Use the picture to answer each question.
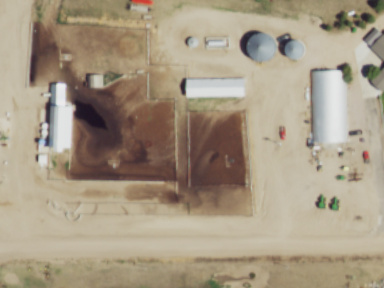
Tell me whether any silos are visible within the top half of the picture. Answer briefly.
Yes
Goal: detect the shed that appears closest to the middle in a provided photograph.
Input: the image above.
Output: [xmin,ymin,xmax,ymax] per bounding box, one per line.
[186,78,246,98]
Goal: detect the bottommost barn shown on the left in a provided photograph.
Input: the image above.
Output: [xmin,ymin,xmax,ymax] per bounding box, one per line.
[50,105,73,152]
